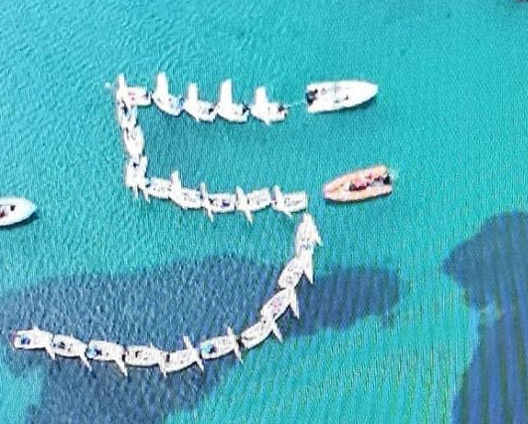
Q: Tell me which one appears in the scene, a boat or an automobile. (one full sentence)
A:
This aerial view contains a boat.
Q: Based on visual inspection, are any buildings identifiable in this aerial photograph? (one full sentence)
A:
No, the frame has no building in it.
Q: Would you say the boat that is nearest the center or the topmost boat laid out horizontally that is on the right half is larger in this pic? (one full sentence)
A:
The larger object is the topmost boat laid out horizontally that is on the right half, with the boat that is nearest the center being the smaller of the pair.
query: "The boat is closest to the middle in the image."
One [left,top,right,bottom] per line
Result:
[238,187,273,229]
